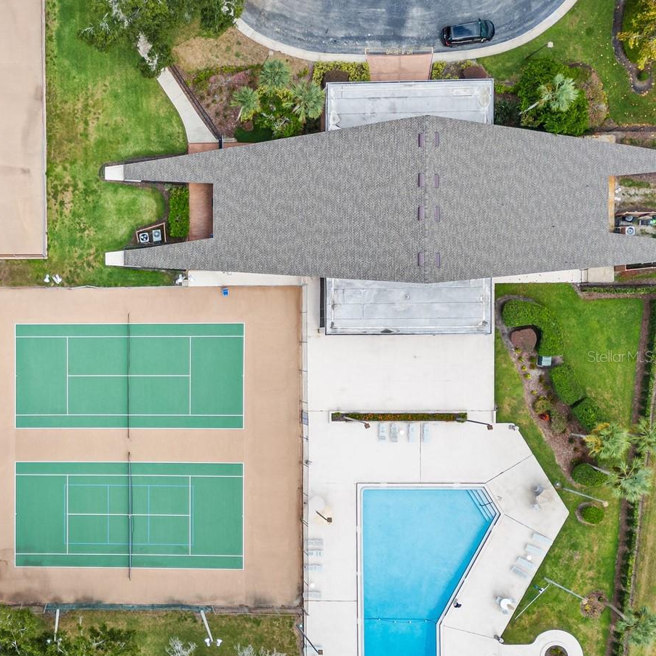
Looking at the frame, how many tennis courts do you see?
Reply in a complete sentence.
The picture shows 2 tennis courts.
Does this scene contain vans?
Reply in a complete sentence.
Yes, this view includes a van.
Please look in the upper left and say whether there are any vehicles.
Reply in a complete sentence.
No, no vehicle is visible in the upper left.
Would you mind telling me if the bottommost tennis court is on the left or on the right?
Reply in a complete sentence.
The bottommost tennis court is on the left side of the image.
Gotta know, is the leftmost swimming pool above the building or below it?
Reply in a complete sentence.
Looking at the scene, the leftmost swimming pool is located below the building.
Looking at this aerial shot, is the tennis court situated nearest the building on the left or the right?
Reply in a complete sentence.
The tennis court situated nearest the building is on the left side of the image.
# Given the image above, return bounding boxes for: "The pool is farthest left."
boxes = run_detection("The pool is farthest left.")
[358,483,503,656]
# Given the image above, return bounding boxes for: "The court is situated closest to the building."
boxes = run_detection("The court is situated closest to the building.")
[14,313,246,439]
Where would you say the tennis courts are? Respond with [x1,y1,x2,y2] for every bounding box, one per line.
[13,452,246,580]
[14,313,246,439]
